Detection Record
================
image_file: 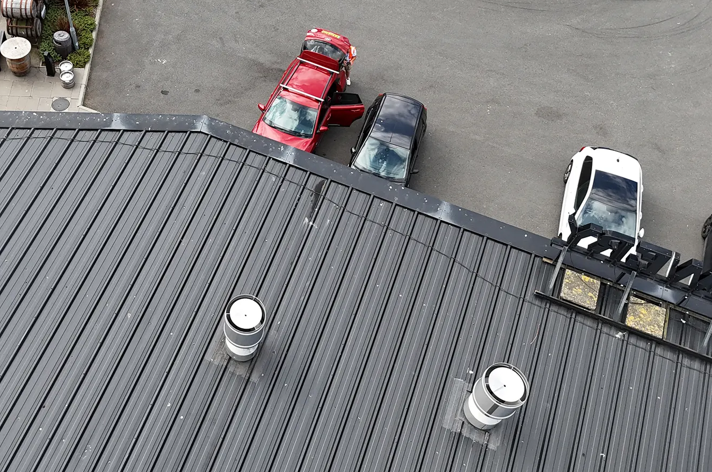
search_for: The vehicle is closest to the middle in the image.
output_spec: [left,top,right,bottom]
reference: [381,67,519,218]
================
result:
[344,88,432,194]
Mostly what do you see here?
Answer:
buildings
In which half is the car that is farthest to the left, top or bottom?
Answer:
top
